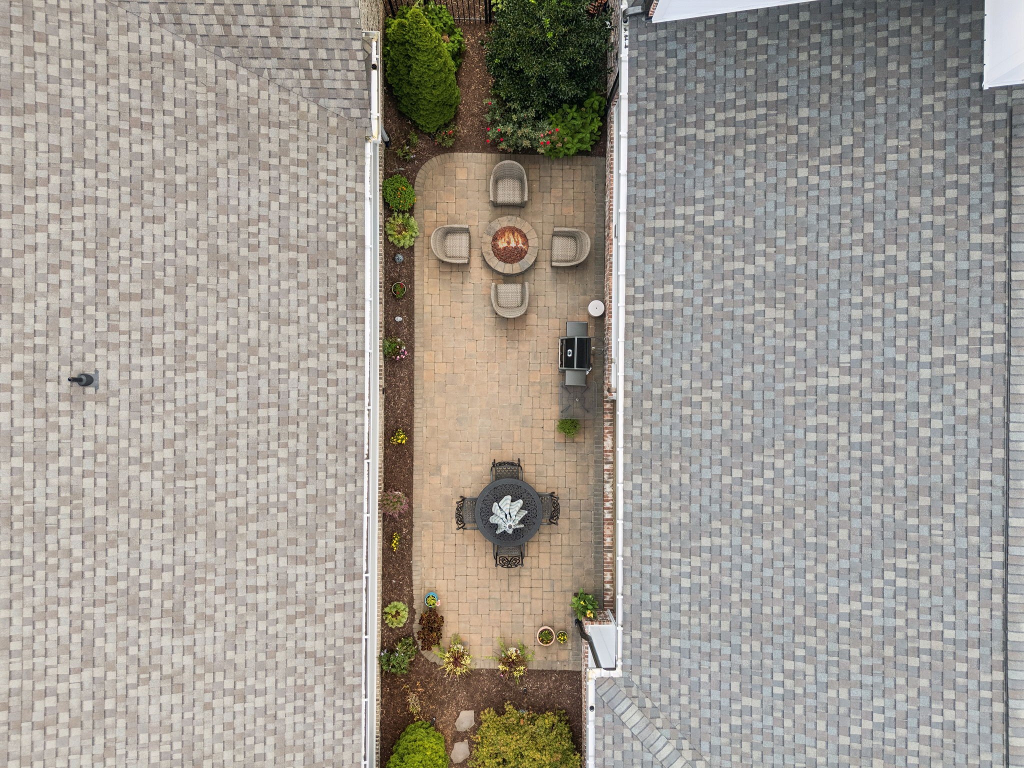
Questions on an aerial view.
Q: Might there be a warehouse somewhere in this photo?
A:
No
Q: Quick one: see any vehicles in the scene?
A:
No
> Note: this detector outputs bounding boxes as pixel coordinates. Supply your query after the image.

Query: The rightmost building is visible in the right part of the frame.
[573,0,1024,768]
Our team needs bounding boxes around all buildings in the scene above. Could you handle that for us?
[0,0,390,768]
[573,0,1024,768]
